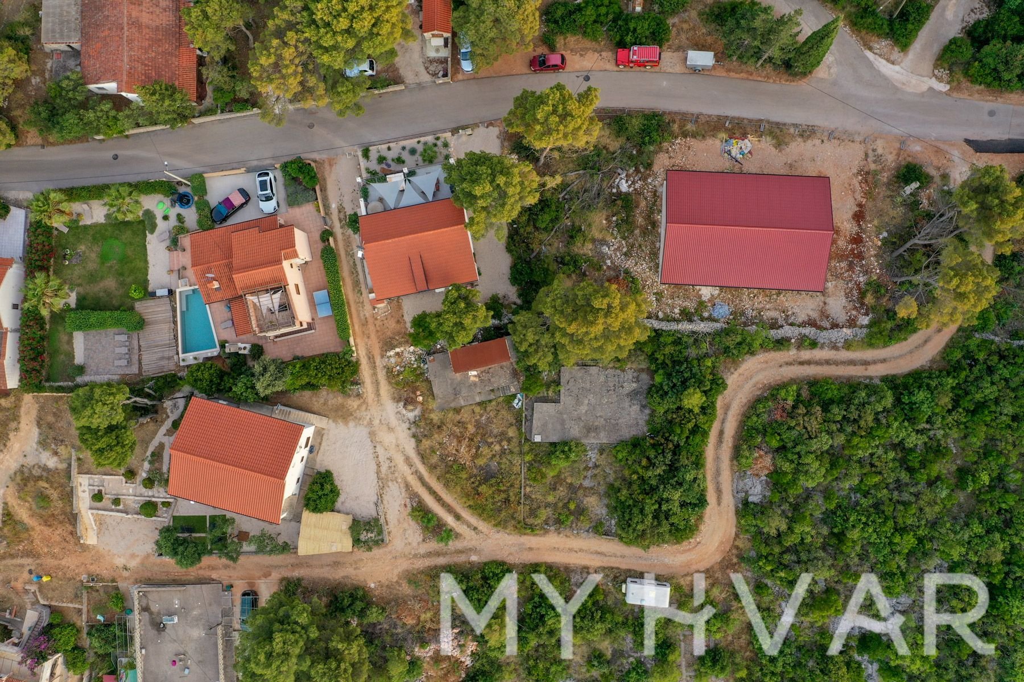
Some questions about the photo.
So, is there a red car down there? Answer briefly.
Yes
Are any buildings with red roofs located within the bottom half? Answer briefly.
Yes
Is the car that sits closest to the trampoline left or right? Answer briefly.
left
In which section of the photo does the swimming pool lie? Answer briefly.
left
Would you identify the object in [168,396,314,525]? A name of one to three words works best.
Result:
house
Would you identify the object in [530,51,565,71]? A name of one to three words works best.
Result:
car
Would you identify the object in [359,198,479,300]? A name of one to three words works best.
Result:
house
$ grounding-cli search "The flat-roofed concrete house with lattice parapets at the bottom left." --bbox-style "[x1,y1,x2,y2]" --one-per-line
[131,581,235,682]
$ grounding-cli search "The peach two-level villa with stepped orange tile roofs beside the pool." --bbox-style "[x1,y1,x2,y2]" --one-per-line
[190,214,312,336]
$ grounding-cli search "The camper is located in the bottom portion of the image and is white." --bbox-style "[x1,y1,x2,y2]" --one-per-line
[617,575,670,607]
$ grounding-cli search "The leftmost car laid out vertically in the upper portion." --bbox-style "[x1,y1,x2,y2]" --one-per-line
[256,172,279,215]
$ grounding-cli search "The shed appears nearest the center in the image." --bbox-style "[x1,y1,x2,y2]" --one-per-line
[427,337,522,410]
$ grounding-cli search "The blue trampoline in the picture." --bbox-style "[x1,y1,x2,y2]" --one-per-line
[173,191,195,210]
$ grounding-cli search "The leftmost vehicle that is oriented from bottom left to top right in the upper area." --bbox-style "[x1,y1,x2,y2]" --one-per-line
[211,186,252,222]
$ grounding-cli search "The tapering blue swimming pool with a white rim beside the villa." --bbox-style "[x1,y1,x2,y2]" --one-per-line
[176,286,219,357]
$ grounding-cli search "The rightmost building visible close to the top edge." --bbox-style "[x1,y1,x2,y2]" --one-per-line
[422,0,452,42]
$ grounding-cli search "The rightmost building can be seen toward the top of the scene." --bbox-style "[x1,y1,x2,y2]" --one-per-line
[654,169,834,293]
